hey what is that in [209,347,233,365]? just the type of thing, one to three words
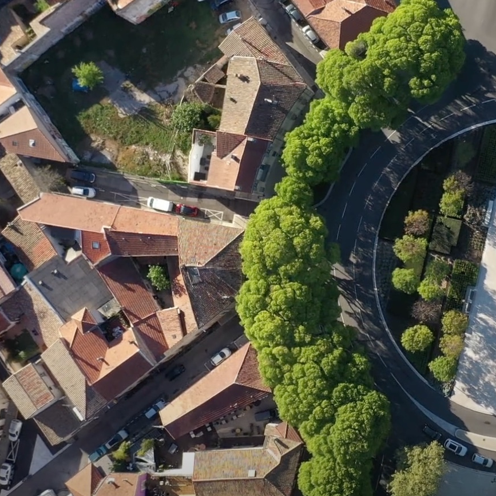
car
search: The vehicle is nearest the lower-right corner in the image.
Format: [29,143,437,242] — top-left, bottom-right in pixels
[471,453,493,468]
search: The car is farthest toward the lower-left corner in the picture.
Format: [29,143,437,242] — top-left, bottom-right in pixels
[0,461,15,487]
